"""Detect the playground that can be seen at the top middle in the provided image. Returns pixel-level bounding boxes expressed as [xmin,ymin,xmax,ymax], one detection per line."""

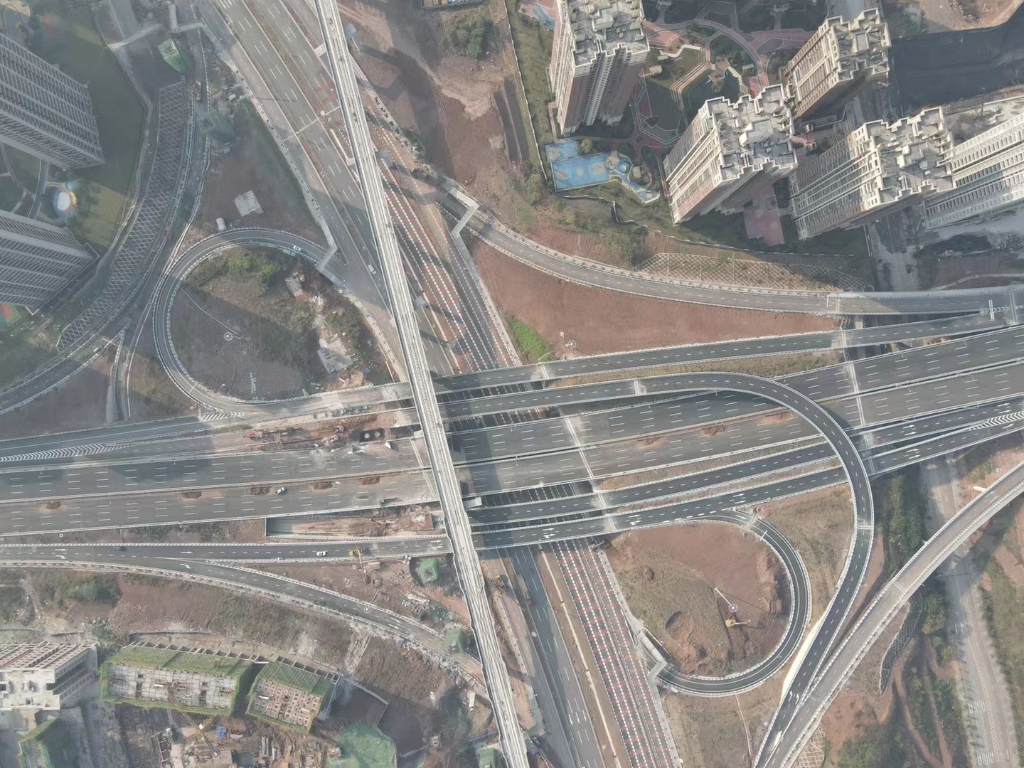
[546,141,661,204]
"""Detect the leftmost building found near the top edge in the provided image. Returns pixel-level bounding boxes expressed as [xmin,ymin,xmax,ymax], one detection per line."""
[0,22,106,178]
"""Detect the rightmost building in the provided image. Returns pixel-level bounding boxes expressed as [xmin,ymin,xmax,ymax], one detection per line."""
[919,107,1024,231]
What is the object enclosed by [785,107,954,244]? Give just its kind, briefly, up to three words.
building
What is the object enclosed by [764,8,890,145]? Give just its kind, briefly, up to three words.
building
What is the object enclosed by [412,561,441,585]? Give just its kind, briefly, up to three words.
shed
